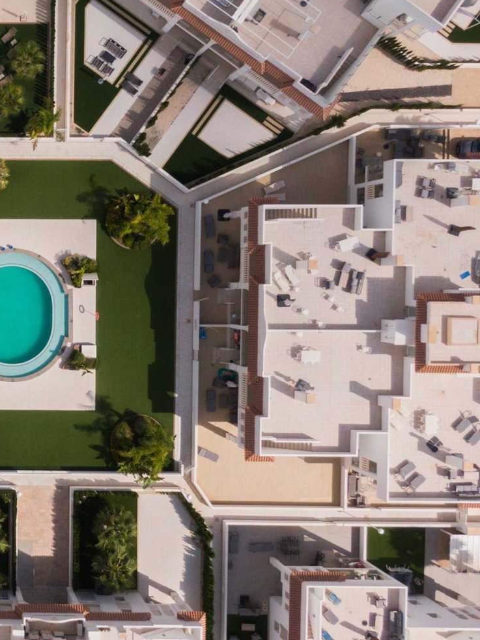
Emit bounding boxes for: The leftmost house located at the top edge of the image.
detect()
[129,0,388,134]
